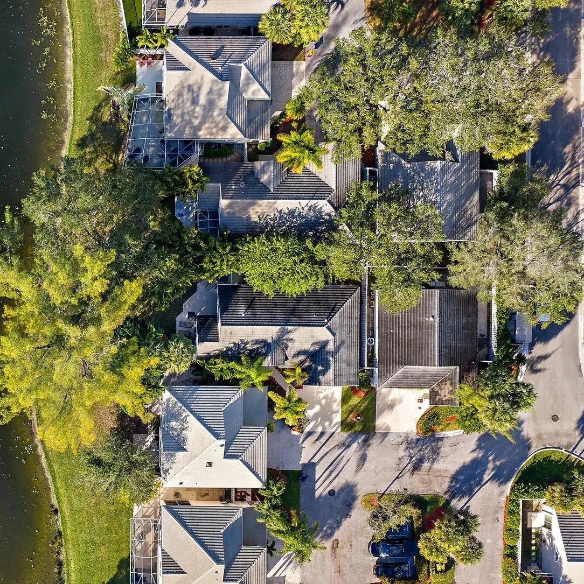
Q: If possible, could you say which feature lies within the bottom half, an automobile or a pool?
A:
automobile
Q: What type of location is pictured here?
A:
residential area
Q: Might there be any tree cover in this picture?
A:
Yes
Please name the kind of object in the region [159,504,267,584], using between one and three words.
house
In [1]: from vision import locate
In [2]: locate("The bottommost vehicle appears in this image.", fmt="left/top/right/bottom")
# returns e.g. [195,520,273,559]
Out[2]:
[374,562,412,581]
